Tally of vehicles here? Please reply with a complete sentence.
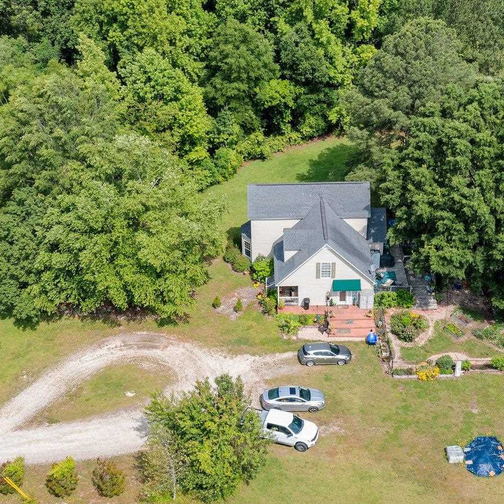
There are 3 vehicles in the image.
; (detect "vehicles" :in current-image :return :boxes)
[298,339,353,366]
[263,408,322,451]
[262,382,325,411]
